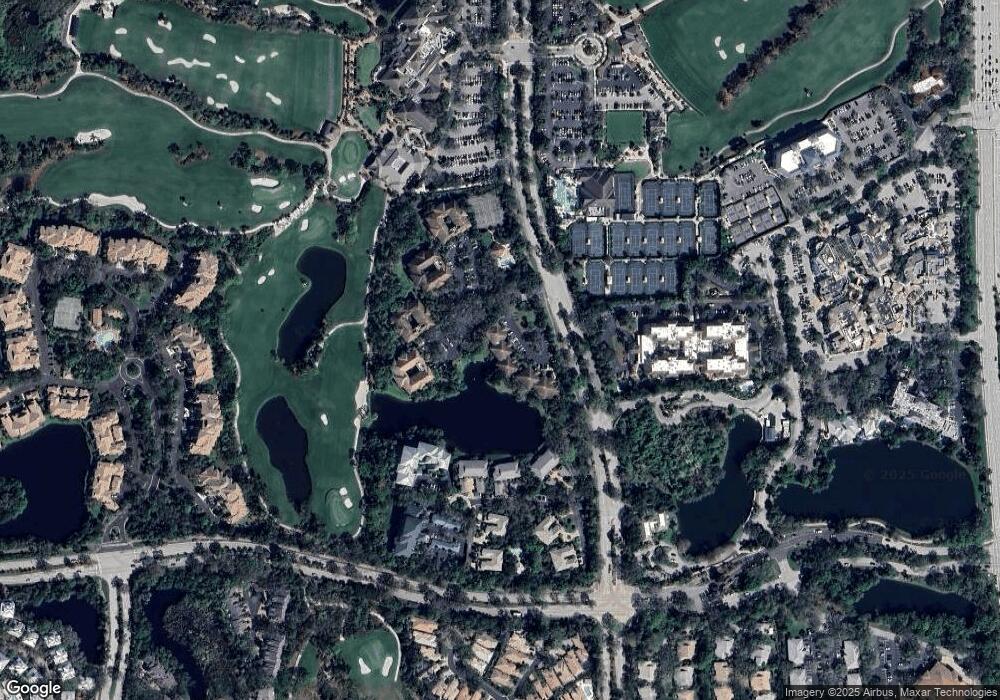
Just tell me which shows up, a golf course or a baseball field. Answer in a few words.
golf course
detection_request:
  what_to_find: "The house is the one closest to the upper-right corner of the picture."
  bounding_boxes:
[911,76,945,95]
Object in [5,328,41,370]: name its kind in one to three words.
building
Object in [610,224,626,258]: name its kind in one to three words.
tennis court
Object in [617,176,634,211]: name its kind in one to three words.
tennis court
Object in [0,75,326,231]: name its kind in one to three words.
golf course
